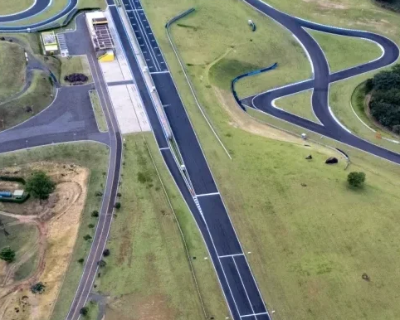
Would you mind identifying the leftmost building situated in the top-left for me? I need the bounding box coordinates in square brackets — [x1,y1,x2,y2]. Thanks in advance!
[41,31,60,57]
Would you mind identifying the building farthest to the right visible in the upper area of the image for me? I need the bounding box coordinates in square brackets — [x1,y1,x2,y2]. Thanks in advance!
[86,11,118,67]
